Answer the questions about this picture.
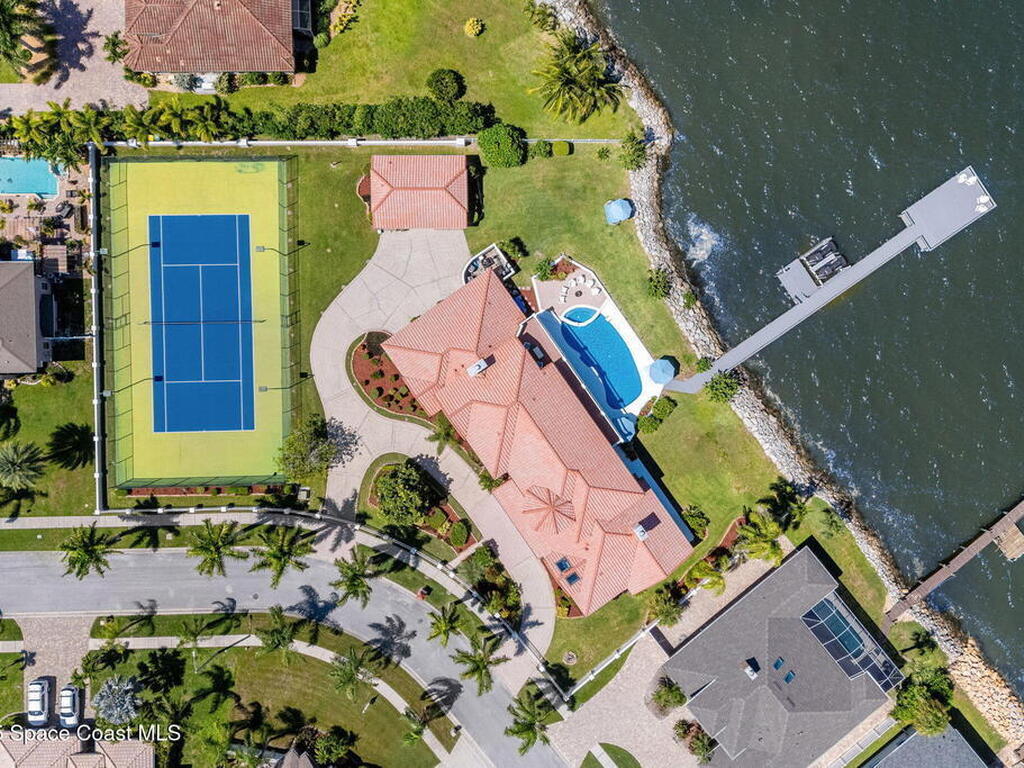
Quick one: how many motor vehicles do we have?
two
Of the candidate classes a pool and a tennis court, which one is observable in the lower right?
pool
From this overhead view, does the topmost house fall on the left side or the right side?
left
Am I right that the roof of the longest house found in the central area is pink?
Yes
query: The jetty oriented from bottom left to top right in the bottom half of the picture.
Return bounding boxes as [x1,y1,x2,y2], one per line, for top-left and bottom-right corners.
[879,500,1024,632]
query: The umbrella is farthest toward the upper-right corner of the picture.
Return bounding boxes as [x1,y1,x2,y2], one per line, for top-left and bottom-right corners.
[607,200,632,225]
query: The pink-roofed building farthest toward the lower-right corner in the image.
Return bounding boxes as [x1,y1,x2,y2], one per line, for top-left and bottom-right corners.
[384,268,693,617]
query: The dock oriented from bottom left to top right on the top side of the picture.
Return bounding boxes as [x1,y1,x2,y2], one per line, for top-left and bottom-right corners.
[664,166,996,393]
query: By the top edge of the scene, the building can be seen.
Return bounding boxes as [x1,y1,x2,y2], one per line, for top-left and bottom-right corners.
[123,0,296,79]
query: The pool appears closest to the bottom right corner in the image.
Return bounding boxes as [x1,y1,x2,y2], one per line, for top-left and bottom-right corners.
[811,598,865,659]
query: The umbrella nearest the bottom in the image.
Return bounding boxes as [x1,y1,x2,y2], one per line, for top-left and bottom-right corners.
[616,416,639,439]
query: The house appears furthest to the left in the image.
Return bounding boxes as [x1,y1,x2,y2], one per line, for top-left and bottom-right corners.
[0,262,65,373]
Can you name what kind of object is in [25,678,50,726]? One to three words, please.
car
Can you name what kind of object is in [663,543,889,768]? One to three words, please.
house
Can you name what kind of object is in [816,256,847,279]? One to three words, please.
vessel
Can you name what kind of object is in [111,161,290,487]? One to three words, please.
tennis court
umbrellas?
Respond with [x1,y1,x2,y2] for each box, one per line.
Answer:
[607,200,632,225]
[616,416,639,439]
[650,359,674,383]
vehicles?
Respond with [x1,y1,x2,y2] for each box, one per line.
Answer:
[55,683,80,728]
[25,678,50,726]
